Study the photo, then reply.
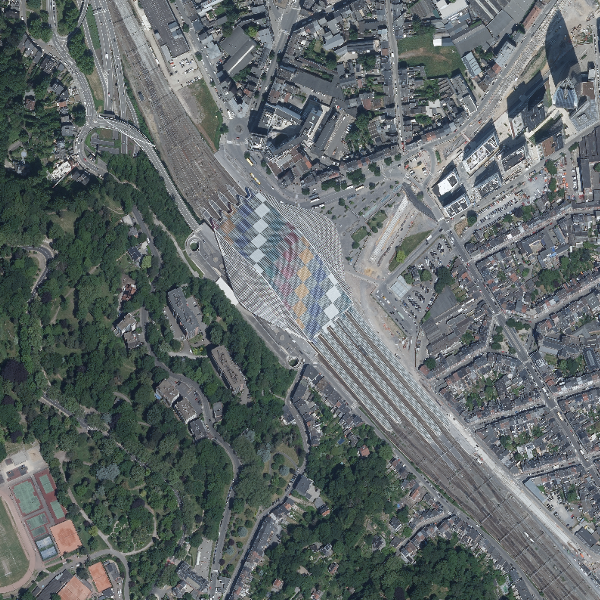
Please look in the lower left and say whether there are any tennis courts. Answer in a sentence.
Yes, a tennis court can be seen in the lower left.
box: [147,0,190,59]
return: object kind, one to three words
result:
building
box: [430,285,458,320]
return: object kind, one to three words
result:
building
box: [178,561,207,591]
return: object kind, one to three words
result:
house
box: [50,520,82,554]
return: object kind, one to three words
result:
tennis court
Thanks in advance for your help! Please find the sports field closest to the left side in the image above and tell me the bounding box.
[0,492,28,585]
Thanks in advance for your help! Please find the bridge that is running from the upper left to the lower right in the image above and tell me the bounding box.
[92,116,198,233]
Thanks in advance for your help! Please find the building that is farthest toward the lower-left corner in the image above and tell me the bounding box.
[36,570,74,600]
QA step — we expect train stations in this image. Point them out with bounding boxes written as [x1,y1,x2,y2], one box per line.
[196,172,469,462]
